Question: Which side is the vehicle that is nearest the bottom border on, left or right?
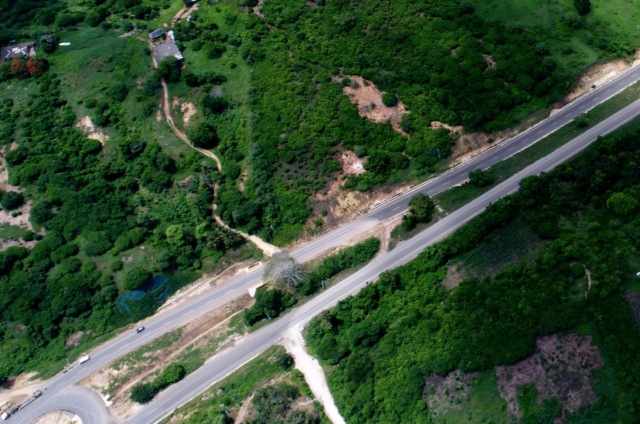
left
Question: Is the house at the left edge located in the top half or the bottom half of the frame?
top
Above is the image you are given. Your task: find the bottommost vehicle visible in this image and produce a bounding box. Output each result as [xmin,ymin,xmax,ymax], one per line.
[1,392,42,421]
